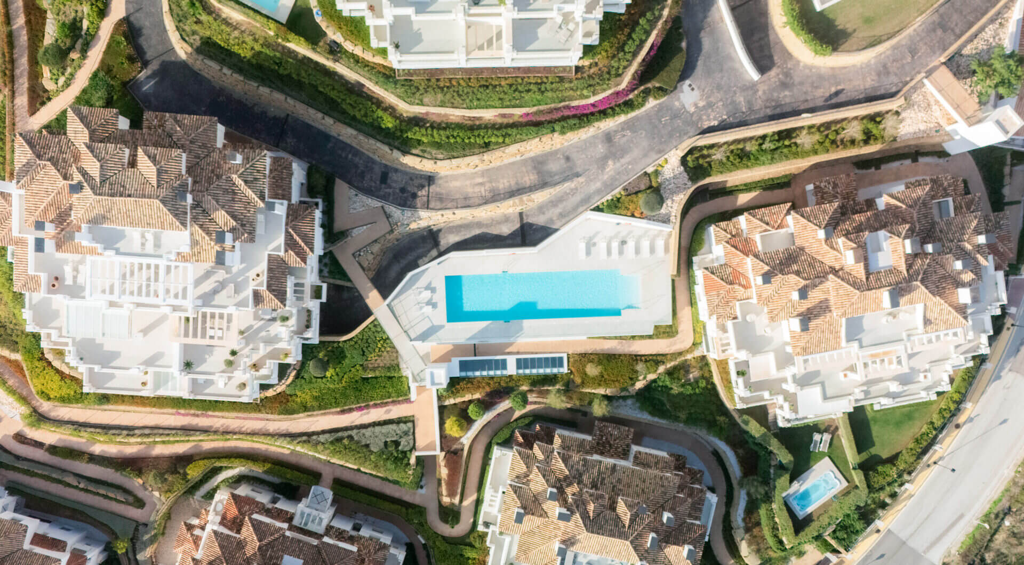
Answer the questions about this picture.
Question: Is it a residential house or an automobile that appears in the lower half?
residential house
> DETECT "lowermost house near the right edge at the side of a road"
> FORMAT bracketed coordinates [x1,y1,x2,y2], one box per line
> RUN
[689,166,1021,428]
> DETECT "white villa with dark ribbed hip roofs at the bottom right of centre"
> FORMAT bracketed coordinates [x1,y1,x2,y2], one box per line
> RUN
[476,417,717,565]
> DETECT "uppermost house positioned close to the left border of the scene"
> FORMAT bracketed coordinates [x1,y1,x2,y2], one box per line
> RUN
[0,105,331,403]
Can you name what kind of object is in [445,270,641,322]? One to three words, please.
swimming pool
